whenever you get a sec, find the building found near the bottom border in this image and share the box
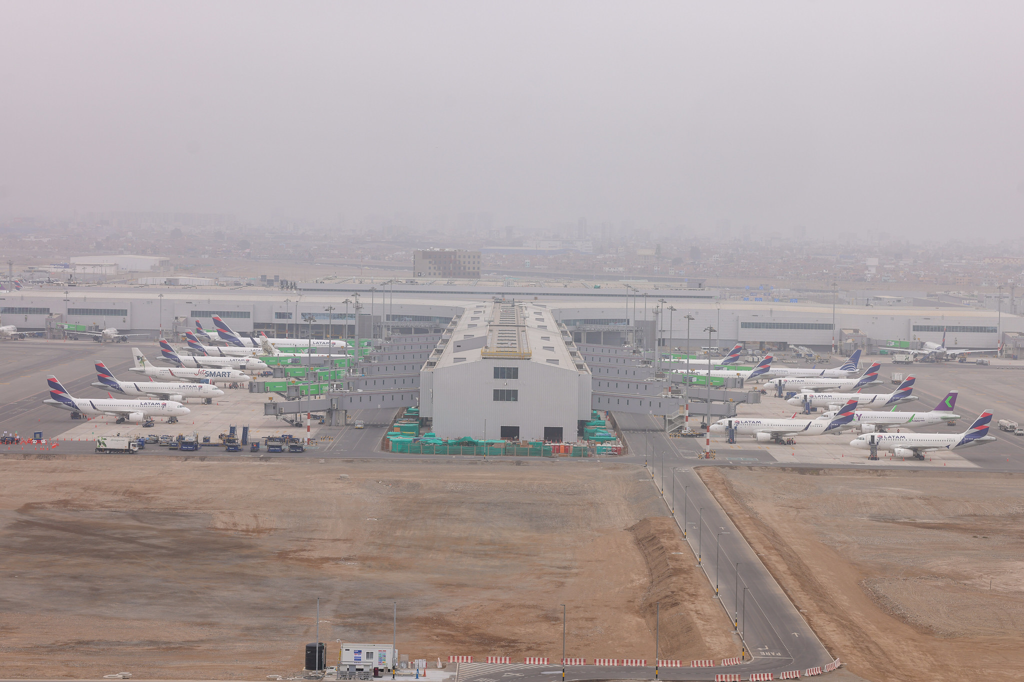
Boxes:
[337,640,399,673]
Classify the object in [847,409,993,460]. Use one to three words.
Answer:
airplane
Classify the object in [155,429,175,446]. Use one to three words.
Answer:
work vehicle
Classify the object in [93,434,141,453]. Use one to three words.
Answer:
vehicle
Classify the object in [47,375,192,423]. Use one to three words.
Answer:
airplane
